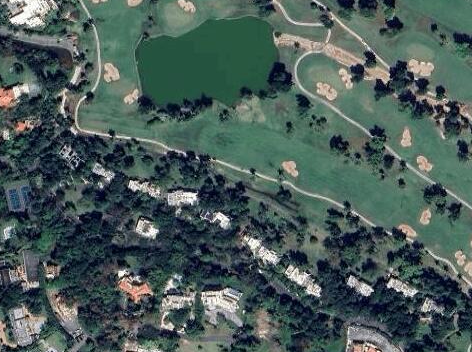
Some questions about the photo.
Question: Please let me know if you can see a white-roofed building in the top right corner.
No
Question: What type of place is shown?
golf course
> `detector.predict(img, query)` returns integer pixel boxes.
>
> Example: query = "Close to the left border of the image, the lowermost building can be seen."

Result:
[12,309,42,346]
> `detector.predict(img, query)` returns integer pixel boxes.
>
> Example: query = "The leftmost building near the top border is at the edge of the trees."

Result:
[8,0,59,28]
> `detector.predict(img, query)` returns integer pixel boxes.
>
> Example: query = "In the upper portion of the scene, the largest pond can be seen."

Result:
[135,16,279,105]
